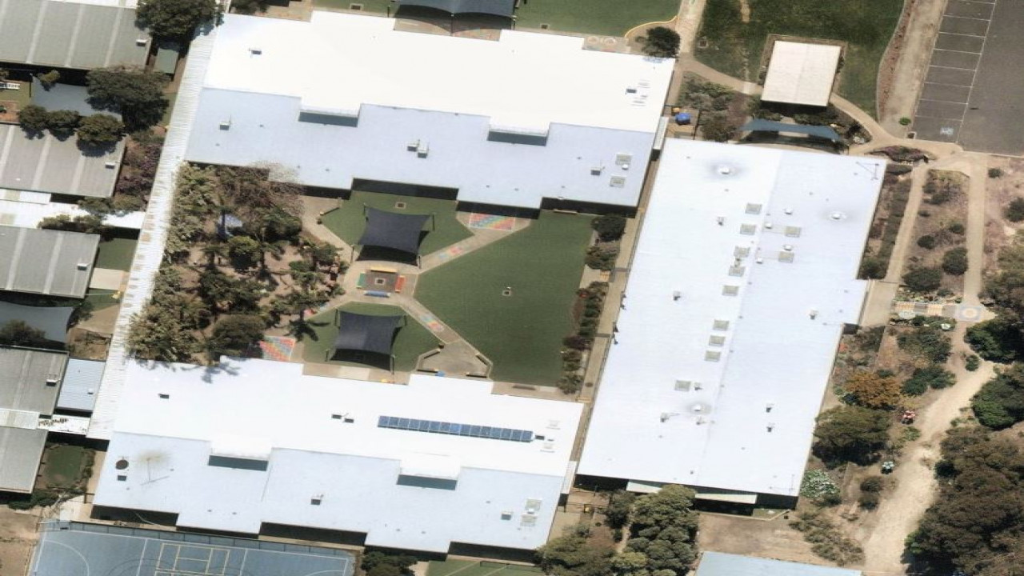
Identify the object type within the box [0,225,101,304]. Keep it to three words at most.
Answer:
building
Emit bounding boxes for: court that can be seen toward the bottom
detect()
[31,527,355,576]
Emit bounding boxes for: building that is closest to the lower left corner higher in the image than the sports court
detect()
[0,426,49,499]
